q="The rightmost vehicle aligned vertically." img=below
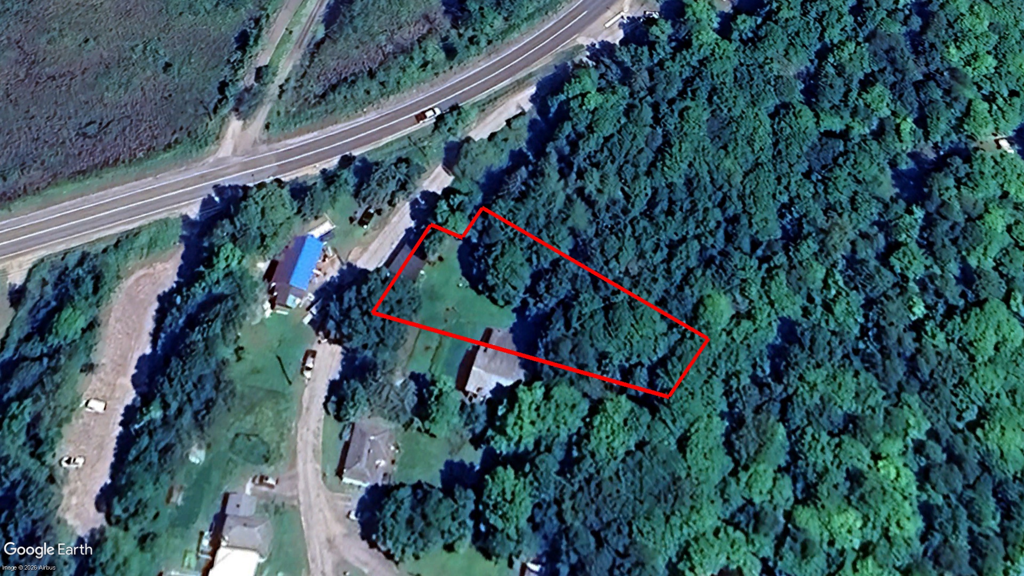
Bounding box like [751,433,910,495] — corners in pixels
[303,351,316,379]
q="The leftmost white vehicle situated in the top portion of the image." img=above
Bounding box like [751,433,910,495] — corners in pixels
[415,107,442,125]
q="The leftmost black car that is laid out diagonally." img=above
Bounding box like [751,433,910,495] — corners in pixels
[358,206,376,227]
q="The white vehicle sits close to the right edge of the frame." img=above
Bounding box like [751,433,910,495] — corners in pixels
[997,135,1014,155]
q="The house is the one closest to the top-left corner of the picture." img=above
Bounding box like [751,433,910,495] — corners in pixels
[267,234,324,313]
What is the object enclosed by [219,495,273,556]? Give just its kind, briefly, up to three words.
house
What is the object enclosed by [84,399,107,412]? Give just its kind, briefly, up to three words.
vehicle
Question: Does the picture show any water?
No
